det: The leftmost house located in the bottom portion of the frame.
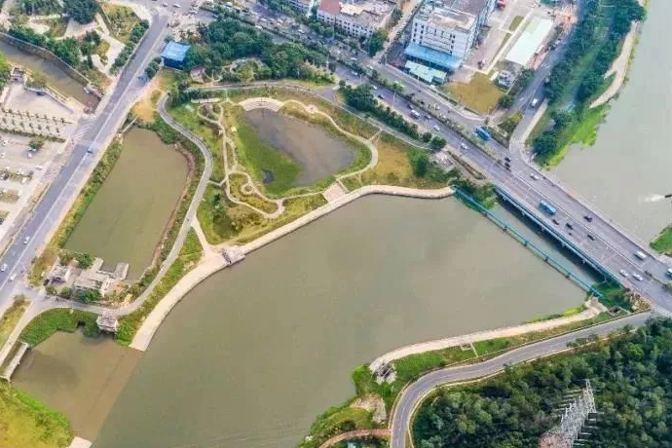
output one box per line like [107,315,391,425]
[50,266,72,286]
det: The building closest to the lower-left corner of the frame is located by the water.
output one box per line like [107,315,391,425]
[98,315,119,339]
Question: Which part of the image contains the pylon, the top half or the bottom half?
bottom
